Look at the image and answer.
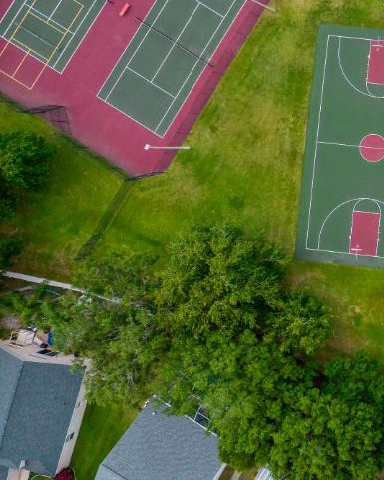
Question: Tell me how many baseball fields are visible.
none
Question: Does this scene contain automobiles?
No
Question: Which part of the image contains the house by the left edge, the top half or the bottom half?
bottom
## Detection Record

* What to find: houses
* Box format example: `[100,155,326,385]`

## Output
[0,337,96,480]
[95,401,233,480]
